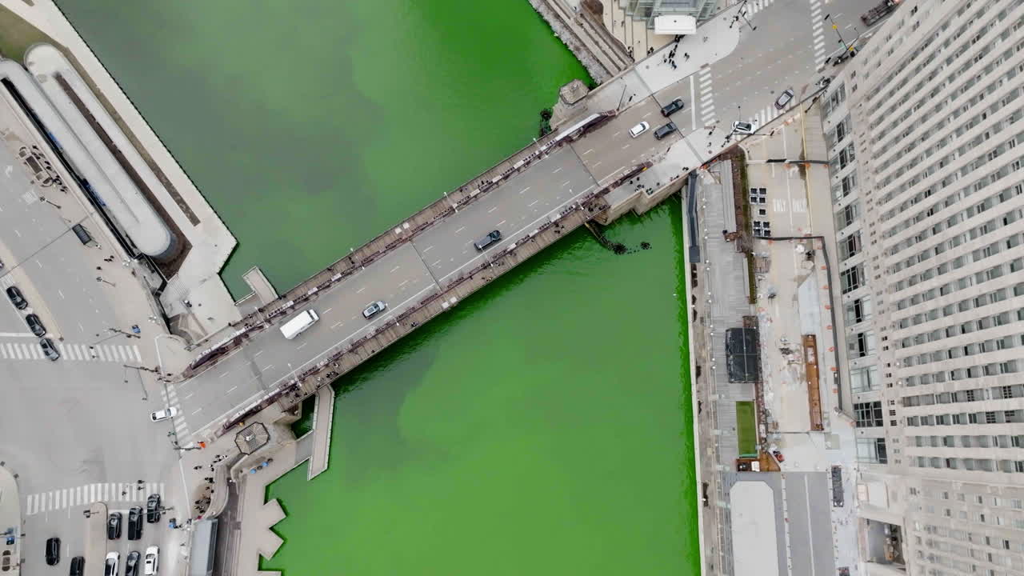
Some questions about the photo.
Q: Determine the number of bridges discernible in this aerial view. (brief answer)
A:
1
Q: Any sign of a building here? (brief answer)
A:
Yes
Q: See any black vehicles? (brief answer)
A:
Yes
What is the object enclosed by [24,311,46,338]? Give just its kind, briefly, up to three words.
car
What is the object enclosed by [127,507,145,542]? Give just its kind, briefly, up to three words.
vehicle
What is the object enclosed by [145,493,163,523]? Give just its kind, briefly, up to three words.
car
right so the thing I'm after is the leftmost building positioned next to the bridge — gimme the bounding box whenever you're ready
[0,42,175,258]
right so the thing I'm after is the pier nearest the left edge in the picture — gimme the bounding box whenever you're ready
[233,266,278,317]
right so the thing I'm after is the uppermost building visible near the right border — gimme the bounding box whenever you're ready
[820,0,1024,490]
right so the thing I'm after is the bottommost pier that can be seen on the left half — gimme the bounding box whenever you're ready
[294,386,336,482]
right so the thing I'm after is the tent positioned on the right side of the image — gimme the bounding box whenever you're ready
[724,481,779,576]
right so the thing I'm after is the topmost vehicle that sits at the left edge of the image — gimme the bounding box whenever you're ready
[5,285,27,311]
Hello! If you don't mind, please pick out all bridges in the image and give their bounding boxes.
[180,105,650,437]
